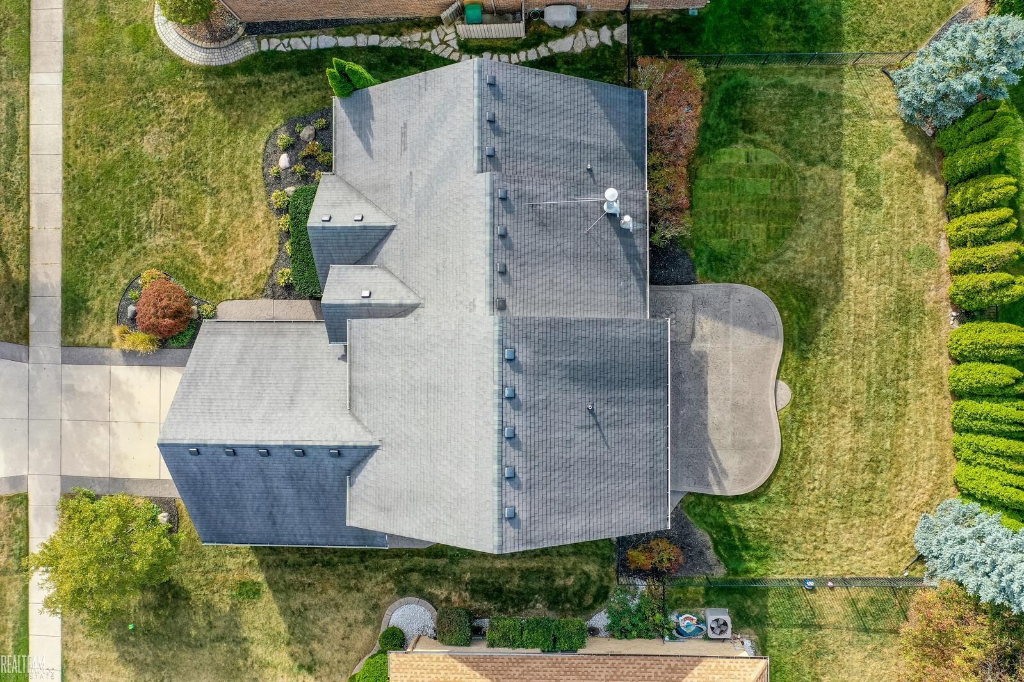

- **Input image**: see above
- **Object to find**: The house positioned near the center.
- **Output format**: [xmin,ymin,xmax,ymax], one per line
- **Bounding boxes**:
[159,60,674,558]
